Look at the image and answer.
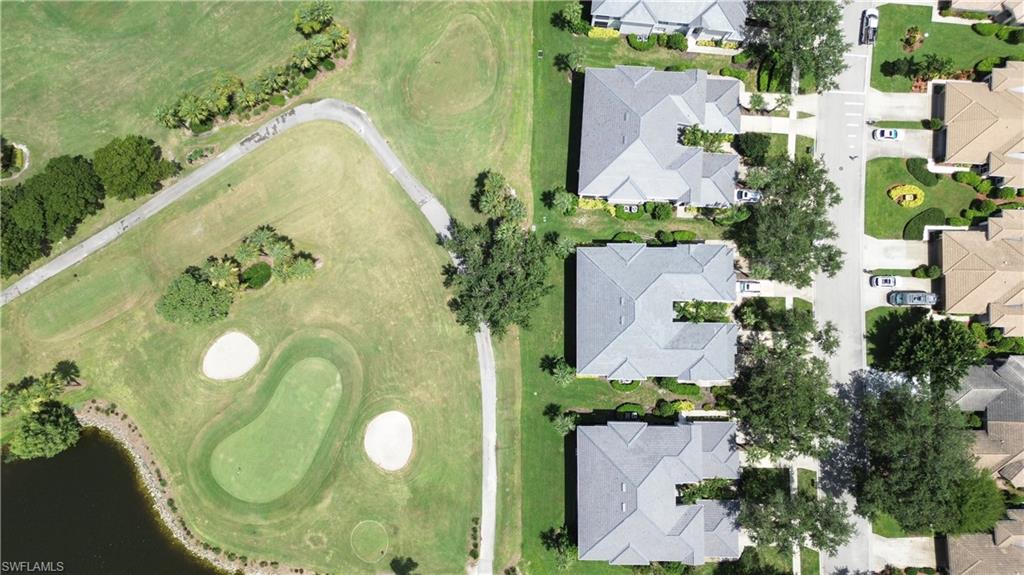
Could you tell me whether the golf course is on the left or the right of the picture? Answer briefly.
left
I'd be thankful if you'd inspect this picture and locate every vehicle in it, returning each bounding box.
[860,8,879,45]
[738,189,762,202]
[733,280,764,293]
[875,126,904,139]
[889,291,934,306]
[868,275,897,288]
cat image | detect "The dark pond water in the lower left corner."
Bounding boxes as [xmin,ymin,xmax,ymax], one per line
[0,430,227,575]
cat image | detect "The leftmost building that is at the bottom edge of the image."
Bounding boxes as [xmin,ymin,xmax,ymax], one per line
[576,419,739,567]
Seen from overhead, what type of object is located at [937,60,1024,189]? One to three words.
house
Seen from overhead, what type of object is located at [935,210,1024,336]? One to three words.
house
